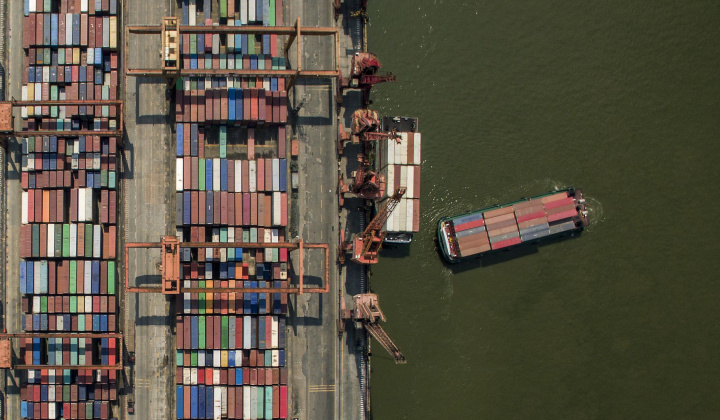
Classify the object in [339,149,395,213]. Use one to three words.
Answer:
container crane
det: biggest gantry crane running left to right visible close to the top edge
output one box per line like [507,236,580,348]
[126,13,339,89]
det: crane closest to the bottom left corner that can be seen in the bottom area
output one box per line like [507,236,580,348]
[0,327,126,369]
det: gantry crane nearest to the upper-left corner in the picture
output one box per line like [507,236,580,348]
[0,99,126,145]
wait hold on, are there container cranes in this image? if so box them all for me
[339,293,409,365]
[339,149,395,213]
[0,327,126,369]
[339,184,410,276]
[127,233,328,295]
[126,13,339,89]
[339,44,401,103]
[0,99,126,145]
[339,101,407,157]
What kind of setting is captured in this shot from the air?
port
